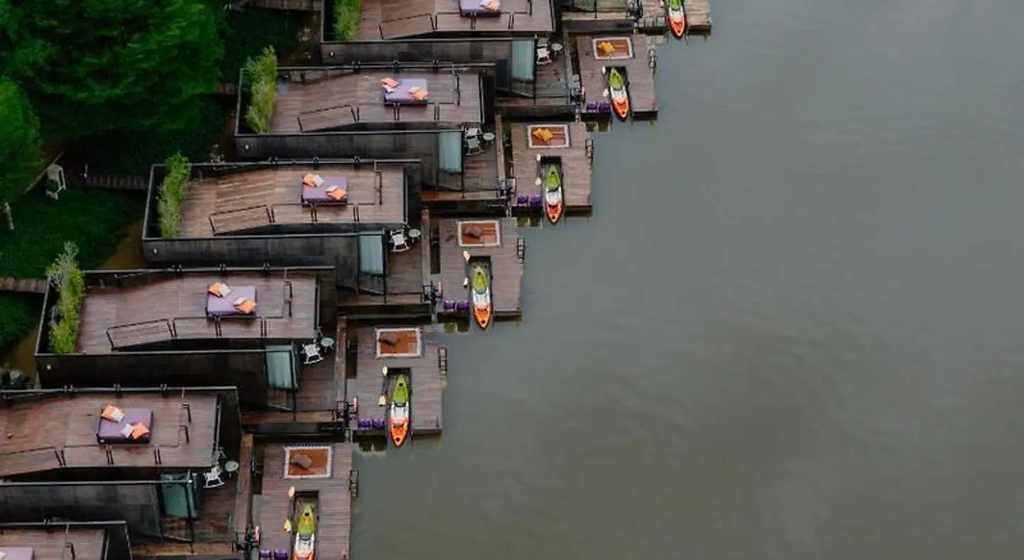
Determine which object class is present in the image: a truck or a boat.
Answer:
boat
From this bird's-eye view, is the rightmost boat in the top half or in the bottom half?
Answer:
top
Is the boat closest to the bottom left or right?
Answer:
left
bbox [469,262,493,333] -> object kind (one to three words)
boat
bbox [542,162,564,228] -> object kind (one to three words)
boat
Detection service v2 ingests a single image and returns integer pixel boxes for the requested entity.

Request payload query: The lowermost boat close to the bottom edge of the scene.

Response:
[292,498,318,560]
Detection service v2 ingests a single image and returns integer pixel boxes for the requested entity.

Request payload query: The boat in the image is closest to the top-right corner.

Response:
[665,0,686,40]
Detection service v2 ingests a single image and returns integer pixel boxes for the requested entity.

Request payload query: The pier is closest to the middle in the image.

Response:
[431,217,522,322]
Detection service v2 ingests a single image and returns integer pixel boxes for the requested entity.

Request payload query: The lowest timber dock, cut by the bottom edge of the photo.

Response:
[249,442,350,560]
